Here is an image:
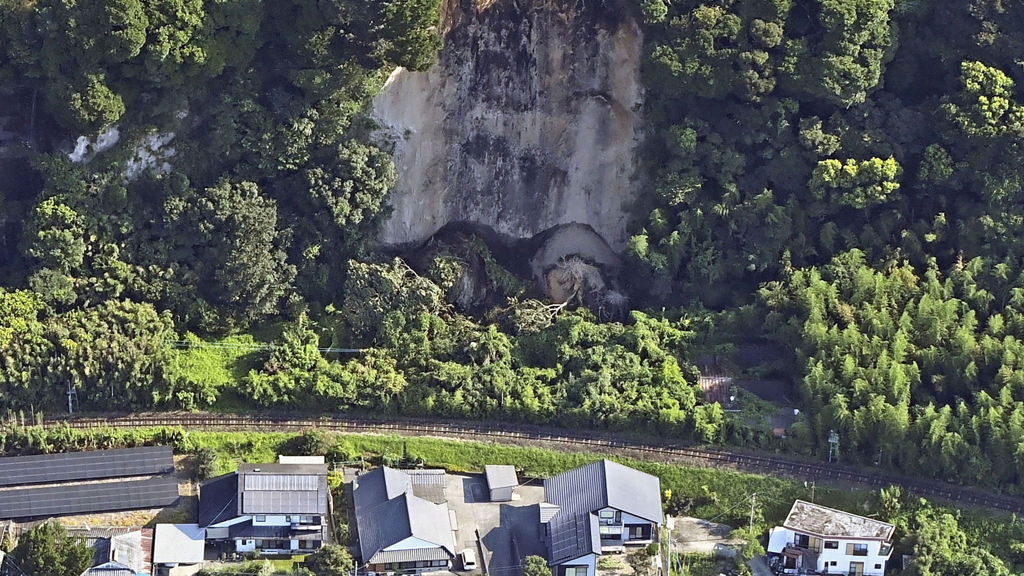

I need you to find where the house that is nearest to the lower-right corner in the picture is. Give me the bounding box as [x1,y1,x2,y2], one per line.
[767,500,902,576]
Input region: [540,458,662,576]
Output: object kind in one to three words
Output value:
house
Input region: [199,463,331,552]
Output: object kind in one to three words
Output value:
house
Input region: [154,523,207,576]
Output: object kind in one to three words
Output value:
building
